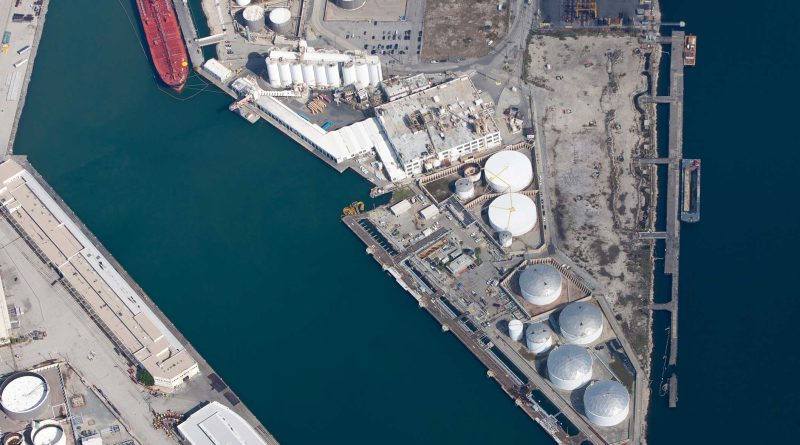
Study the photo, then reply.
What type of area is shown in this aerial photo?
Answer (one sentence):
What you see here is a port.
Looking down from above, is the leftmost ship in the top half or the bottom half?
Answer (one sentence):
The top half of the photo is where the leftmost ship is.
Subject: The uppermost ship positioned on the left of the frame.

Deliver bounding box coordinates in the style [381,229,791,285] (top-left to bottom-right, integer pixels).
[137,0,189,97]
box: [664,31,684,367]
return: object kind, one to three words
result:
pier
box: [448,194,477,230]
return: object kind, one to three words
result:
shed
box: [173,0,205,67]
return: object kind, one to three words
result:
pier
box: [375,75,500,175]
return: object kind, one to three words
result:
building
